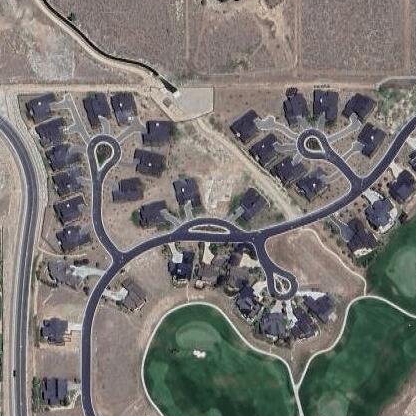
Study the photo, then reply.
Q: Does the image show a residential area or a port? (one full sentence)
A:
What you see here is a residential area.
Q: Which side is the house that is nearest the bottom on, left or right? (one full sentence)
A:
It is on the left.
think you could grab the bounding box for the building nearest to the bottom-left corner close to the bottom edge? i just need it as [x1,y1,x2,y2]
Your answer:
[42,380,68,406]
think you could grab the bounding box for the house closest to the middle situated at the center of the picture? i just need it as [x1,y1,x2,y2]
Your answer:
[173,177,201,206]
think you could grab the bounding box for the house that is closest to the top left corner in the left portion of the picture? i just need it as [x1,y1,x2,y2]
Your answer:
[25,96,54,123]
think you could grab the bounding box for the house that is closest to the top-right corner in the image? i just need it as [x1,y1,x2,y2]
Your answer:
[345,92,376,125]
